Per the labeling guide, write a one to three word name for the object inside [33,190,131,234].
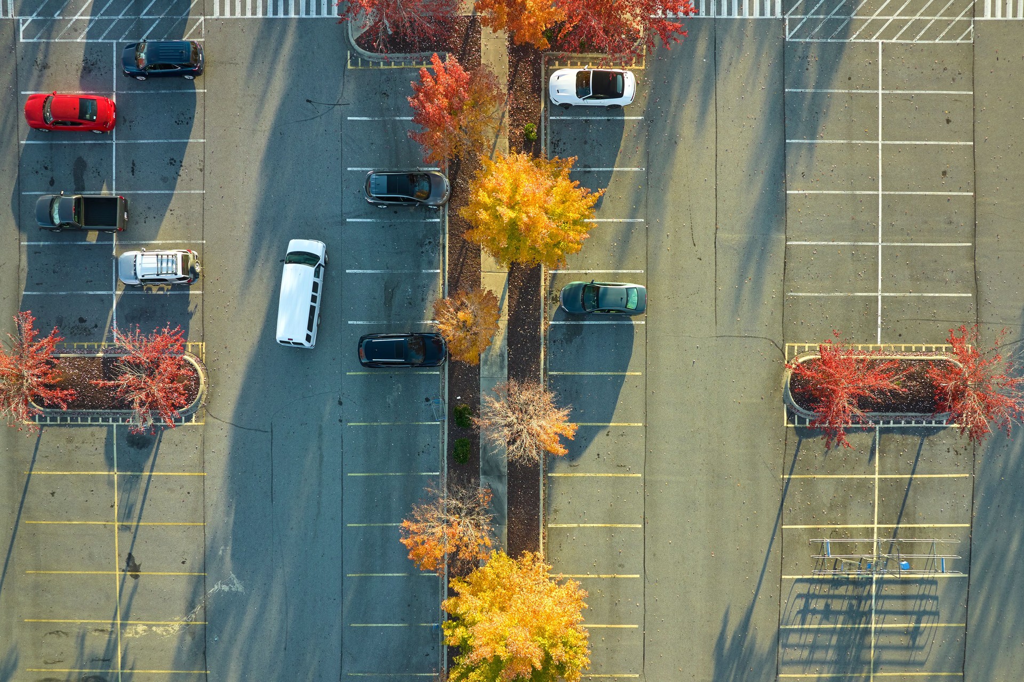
truck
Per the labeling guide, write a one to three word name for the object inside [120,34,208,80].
car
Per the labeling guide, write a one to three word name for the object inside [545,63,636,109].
car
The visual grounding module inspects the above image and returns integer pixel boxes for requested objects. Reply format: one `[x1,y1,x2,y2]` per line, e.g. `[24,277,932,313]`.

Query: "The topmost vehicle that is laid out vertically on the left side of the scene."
[276,239,331,351]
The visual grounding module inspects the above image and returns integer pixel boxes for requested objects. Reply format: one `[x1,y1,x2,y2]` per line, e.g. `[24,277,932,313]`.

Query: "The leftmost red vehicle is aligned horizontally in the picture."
[23,87,118,133]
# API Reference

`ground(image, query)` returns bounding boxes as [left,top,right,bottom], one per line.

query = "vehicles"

[23,87,118,133]
[364,165,453,209]
[359,328,452,372]
[276,239,331,351]
[545,63,636,109]
[33,190,131,234]
[116,245,205,288]
[556,277,646,319]
[120,34,208,80]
